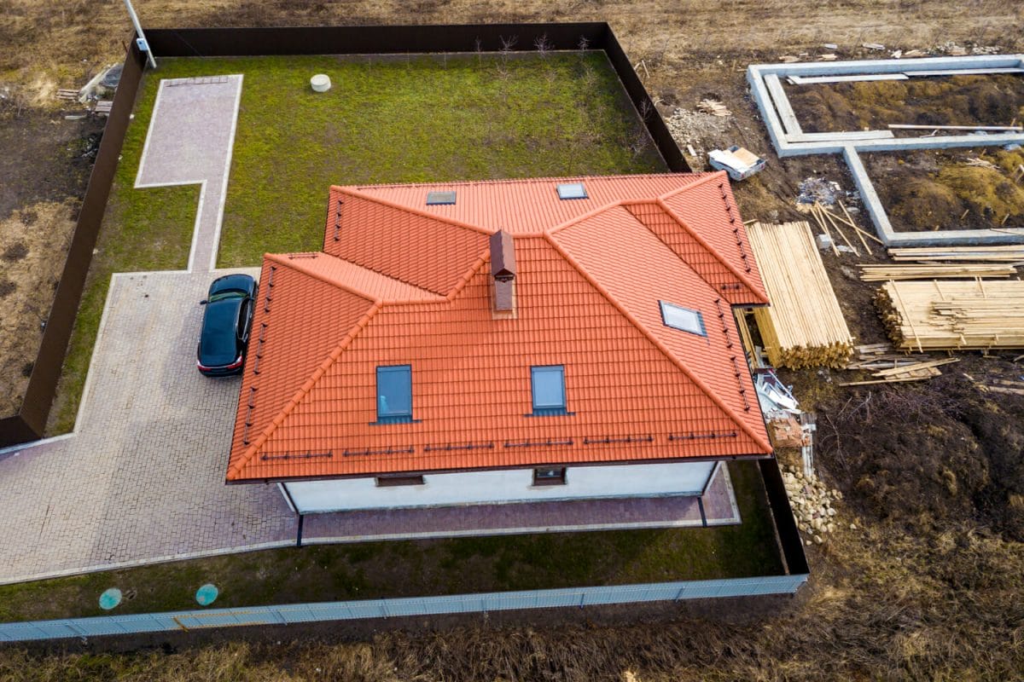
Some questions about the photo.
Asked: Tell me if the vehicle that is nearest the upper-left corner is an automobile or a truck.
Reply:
automobile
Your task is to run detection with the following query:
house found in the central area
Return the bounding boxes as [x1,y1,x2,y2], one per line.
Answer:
[219,166,779,519]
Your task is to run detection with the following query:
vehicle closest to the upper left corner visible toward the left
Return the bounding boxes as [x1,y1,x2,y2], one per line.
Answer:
[195,269,258,376]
